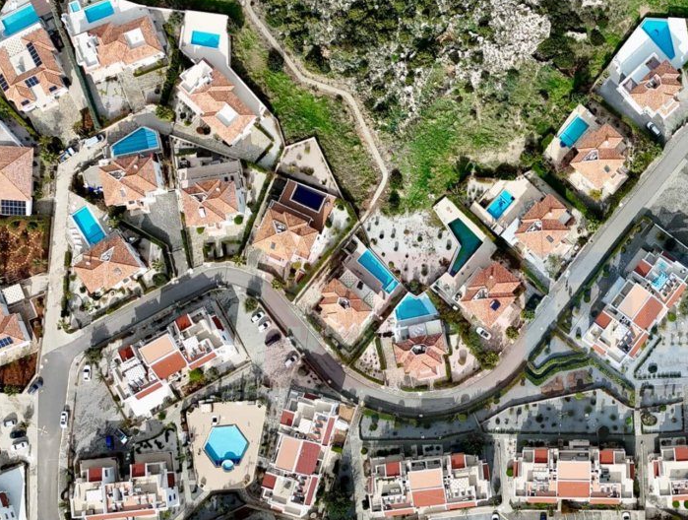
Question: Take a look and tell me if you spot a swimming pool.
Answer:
Yes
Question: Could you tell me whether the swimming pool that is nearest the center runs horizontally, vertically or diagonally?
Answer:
diagonally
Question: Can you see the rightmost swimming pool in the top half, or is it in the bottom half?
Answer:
top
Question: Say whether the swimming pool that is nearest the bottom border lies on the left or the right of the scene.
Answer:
left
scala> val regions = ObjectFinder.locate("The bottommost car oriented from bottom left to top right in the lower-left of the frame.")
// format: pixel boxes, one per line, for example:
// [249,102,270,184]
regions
[28,377,44,394]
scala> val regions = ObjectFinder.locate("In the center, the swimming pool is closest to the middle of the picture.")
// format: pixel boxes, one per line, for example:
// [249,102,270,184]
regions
[342,235,404,299]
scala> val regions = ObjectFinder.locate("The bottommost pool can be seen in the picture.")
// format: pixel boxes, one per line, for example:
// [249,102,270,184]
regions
[187,400,266,491]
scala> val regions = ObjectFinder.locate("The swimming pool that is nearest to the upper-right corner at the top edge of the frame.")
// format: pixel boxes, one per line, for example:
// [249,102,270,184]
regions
[613,17,688,75]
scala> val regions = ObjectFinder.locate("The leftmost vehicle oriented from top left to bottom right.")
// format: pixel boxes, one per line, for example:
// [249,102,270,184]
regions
[112,428,132,448]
